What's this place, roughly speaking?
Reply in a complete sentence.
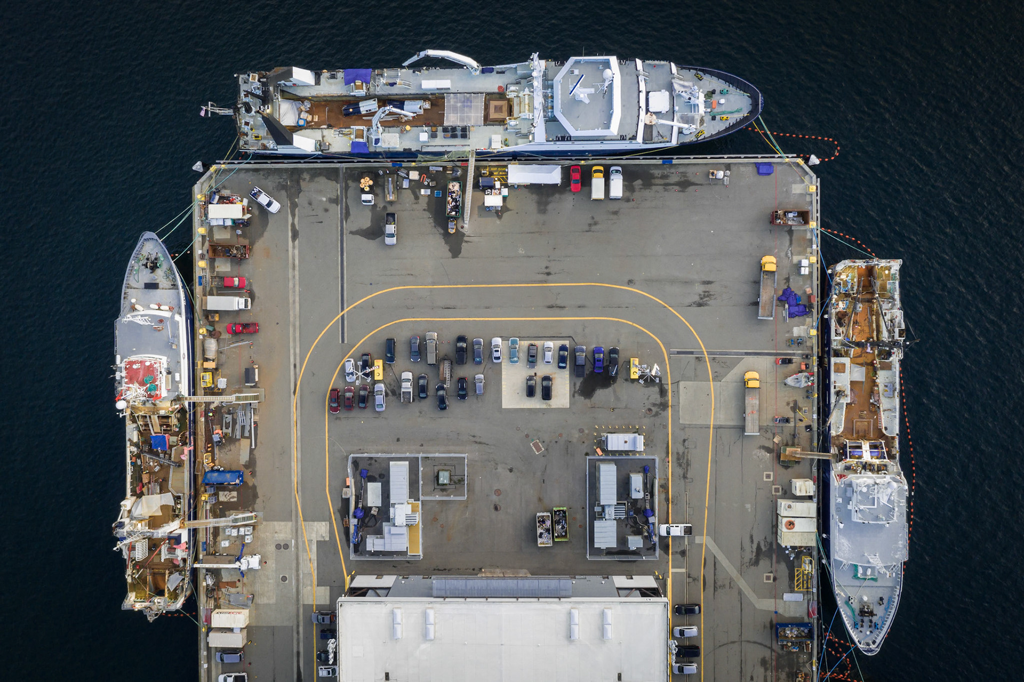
It's a port.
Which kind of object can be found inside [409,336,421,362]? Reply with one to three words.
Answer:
vehicle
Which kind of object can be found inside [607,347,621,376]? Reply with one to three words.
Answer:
vehicle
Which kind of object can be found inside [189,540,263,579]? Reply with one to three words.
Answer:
truck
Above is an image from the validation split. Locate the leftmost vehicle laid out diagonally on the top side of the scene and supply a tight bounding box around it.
[248,186,282,214]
